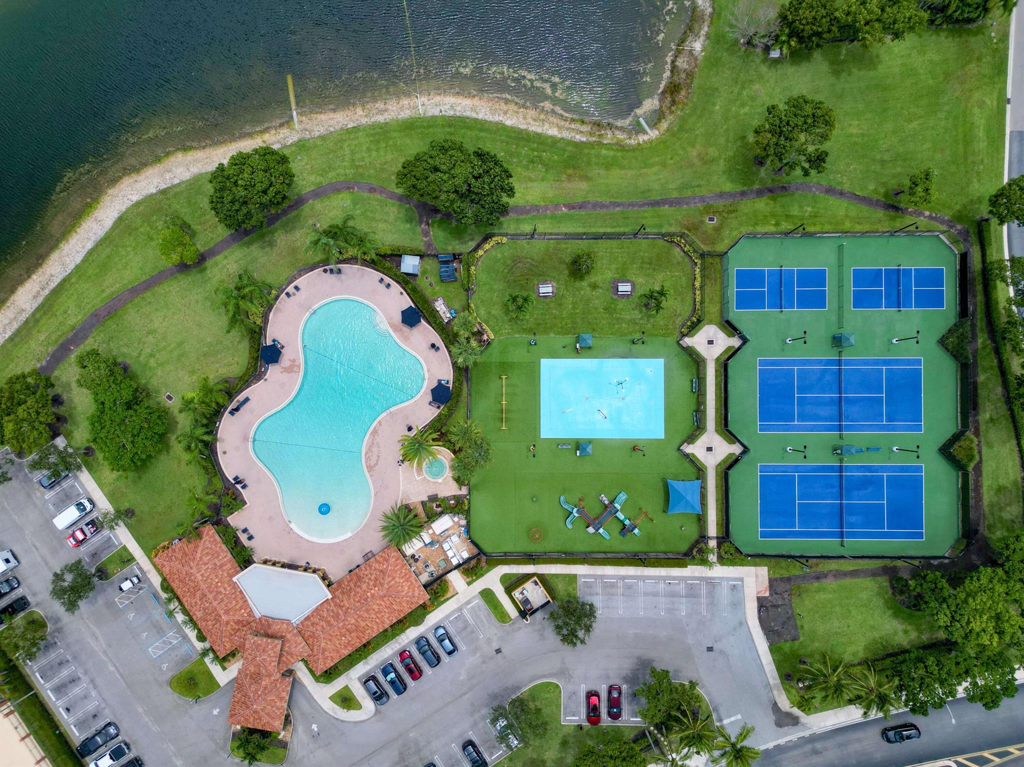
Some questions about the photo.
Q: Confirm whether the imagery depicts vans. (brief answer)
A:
Yes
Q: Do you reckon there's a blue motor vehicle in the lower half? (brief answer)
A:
Yes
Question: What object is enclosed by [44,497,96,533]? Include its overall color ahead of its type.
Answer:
white van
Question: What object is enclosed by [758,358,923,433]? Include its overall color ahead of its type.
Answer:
blue tennis court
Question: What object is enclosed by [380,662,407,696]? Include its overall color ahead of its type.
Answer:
blue car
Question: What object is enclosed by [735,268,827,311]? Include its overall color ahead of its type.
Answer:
blue sports court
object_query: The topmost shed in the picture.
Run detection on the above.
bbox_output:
[398,254,418,273]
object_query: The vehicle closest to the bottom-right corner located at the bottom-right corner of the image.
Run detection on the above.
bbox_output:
[882,723,920,744]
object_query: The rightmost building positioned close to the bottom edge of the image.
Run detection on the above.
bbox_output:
[153,522,429,733]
